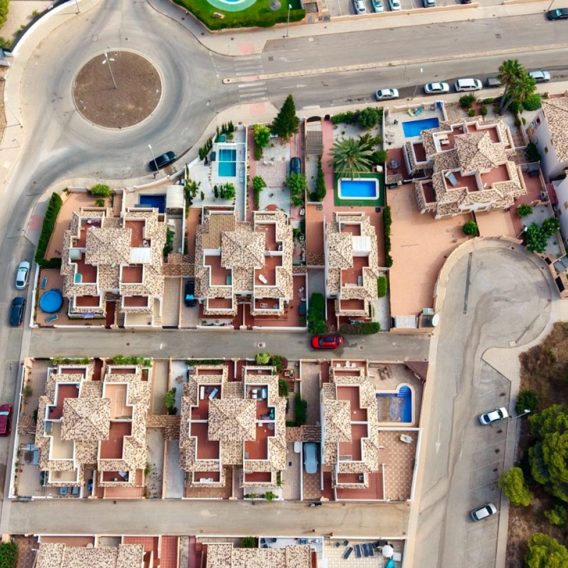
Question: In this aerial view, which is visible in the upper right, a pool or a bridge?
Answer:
pool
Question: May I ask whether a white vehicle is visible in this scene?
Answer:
Yes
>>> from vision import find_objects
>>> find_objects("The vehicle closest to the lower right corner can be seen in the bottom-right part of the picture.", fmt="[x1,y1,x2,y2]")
[469,503,497,523]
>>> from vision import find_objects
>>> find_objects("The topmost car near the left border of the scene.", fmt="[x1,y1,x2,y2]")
[15,263,30,288]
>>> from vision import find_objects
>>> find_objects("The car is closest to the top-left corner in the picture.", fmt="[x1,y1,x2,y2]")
[149,152,176,173]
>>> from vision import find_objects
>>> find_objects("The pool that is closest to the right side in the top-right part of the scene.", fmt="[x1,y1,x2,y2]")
[401,117,440,138]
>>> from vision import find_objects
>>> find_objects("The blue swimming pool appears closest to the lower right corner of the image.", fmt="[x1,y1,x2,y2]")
[374,383,415,425]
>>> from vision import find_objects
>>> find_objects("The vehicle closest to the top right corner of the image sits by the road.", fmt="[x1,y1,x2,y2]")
[547,7,568,20]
